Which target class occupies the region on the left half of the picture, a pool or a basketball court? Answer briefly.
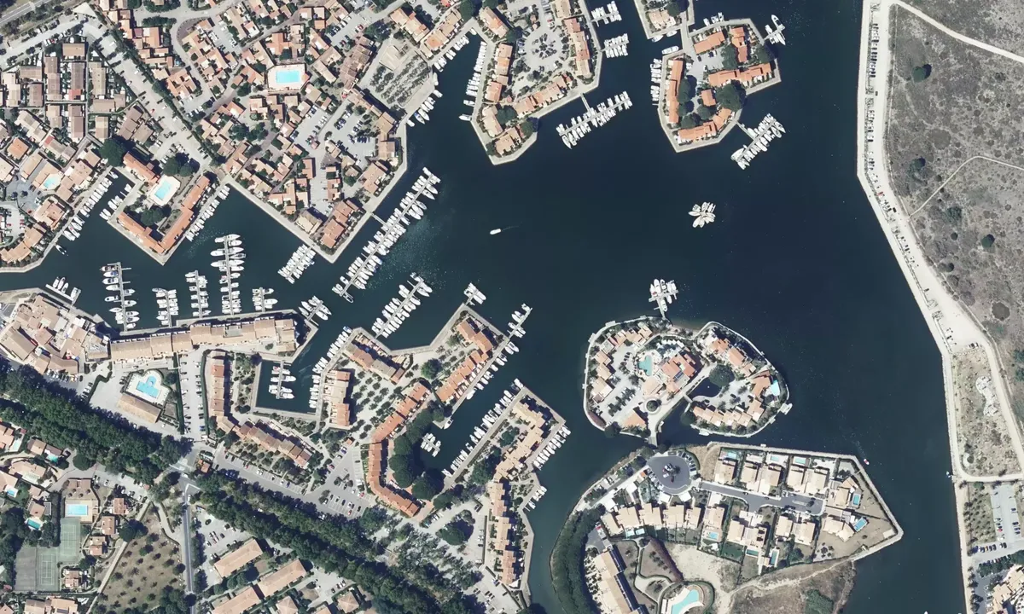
pool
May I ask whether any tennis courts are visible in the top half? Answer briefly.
No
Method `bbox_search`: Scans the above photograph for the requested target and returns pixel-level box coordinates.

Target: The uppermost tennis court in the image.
[59,517,81,563]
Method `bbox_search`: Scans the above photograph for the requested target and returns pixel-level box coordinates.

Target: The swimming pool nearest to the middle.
[634,350,661,379]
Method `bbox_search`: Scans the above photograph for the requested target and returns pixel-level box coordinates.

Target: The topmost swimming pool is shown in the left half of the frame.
[268,64,307,90]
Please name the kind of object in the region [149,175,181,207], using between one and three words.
swimming pool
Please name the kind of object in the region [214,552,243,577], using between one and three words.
building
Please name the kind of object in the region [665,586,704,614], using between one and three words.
swimming pool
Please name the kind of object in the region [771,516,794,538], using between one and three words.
house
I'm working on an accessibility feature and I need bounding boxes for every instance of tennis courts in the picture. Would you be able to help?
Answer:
[14,547,36,591]
[59,517,81,563]
[36,547,59,591]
